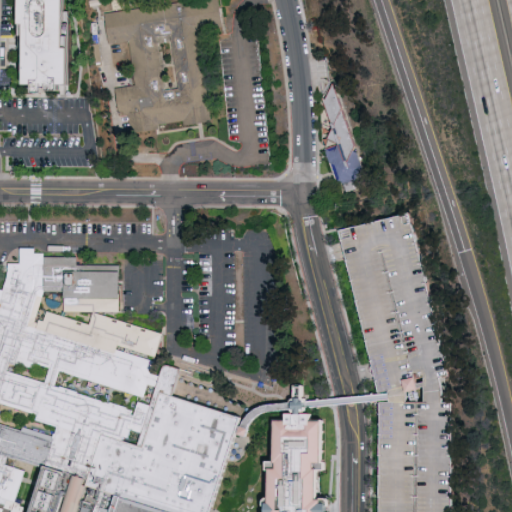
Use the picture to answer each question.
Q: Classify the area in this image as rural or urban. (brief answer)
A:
urban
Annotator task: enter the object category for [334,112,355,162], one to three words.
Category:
building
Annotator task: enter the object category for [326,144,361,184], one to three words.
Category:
building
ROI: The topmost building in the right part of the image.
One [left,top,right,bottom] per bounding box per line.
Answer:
[324,84,342,127]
